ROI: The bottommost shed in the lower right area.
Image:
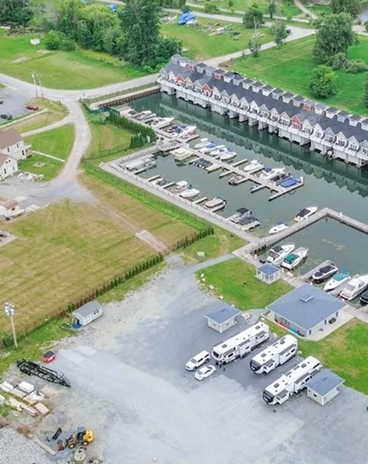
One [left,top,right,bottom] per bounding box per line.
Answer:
[301,366,348,405]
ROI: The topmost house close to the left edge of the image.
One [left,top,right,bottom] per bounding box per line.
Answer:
[0,124,42,185]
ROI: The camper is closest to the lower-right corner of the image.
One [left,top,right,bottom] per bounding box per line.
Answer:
[262,352,321,399]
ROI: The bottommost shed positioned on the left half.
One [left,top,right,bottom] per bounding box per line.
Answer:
[67,297,103,329]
